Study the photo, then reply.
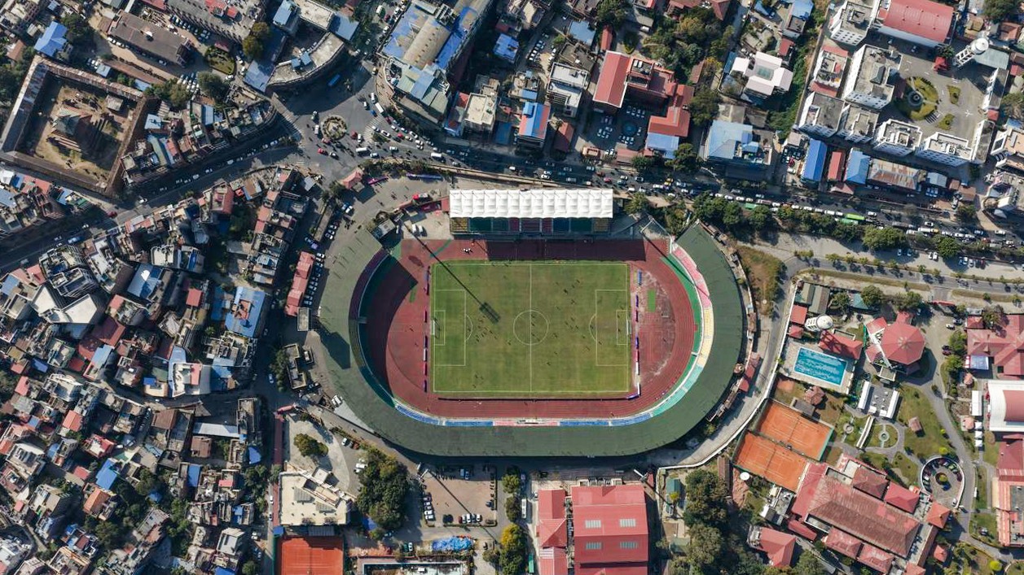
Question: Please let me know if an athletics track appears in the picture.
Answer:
Yes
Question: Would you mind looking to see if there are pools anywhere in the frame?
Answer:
Yes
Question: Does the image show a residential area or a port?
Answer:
residential area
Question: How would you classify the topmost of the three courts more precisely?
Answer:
tennis court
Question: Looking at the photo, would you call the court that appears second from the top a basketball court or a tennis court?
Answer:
tennis court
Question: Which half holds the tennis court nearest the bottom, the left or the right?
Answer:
left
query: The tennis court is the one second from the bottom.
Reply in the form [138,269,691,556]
[734,433,809,491]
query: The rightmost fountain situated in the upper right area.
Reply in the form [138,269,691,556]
[908,88,926,105]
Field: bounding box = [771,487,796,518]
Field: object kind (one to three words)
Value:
house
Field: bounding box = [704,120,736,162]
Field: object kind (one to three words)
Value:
building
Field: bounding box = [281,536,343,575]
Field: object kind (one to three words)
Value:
tennis court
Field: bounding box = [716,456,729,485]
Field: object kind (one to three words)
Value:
shed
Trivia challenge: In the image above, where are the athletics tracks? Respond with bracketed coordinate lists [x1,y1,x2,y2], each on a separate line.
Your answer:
[361,238,700,419]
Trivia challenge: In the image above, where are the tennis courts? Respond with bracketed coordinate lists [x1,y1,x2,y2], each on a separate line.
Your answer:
[281,536,343,575]
[734,433,809,491]
[759,401,837,461]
